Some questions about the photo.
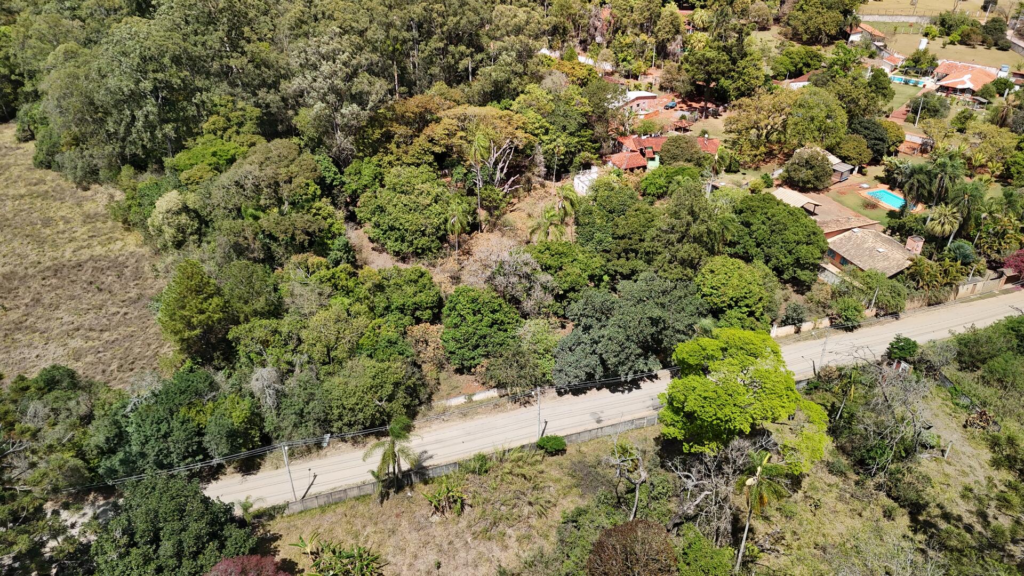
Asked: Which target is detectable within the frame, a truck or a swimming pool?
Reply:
swimming pool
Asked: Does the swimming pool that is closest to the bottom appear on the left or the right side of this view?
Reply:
right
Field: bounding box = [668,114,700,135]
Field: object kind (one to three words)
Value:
gazebo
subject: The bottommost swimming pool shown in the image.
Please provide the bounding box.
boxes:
[858,183,921,212]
